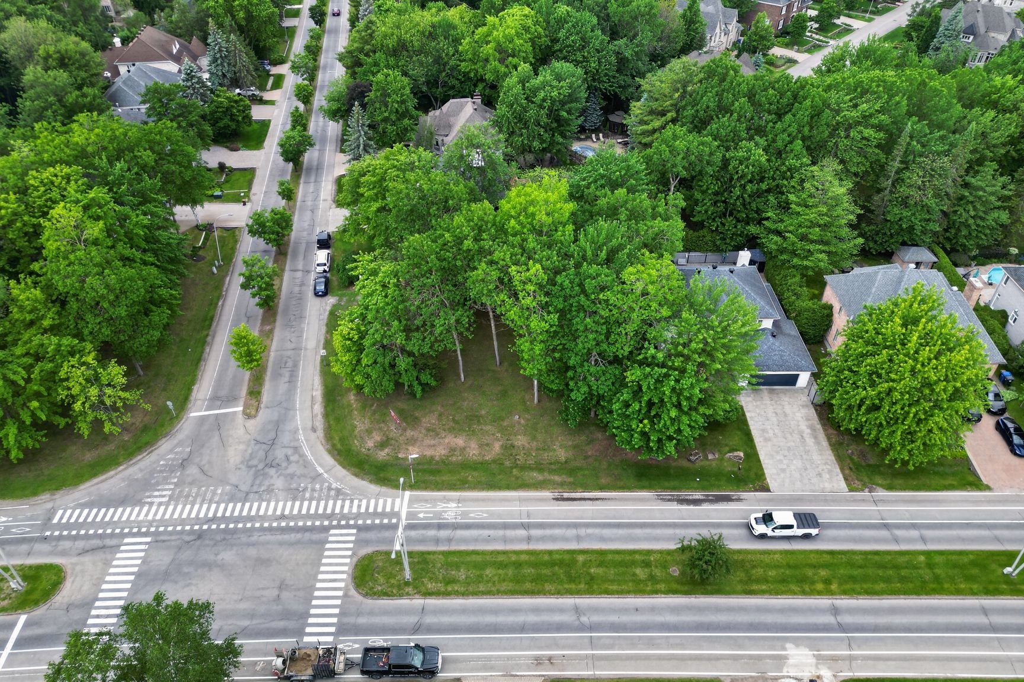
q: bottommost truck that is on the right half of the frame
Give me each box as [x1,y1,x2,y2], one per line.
[744,506,822,537]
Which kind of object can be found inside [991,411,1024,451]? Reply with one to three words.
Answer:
car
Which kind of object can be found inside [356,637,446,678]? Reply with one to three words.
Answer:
truck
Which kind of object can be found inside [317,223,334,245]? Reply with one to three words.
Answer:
car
